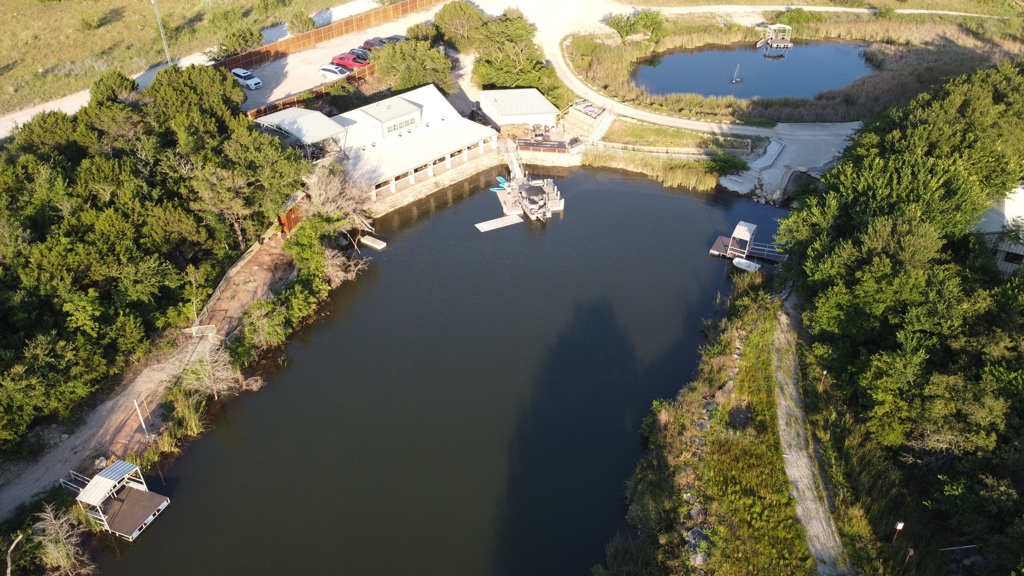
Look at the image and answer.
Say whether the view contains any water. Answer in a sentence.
Yes, water shows up in the scene.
